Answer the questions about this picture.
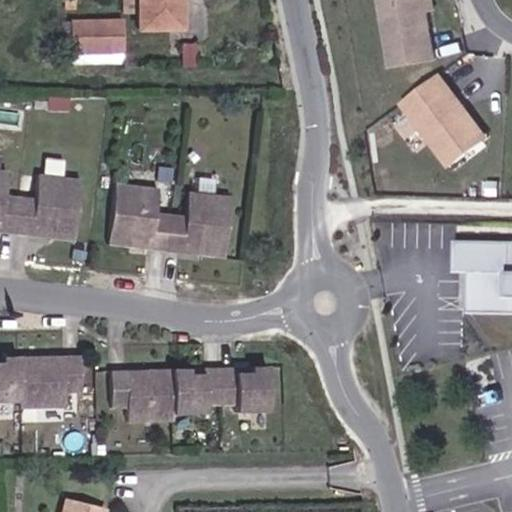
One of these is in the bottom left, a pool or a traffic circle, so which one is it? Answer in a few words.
pool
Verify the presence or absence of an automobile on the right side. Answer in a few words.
Yes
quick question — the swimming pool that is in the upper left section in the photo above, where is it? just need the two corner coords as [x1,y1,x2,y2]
[0,106,24,128]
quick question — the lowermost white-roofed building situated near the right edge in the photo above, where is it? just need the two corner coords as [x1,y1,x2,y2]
[451,240,512,314]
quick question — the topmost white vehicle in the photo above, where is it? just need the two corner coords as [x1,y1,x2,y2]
[434,41,462,56]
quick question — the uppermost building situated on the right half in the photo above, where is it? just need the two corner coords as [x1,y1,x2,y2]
[373,0,436,68]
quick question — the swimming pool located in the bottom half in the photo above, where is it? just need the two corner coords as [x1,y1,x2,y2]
[62,430,86,454]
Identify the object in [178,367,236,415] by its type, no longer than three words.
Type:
house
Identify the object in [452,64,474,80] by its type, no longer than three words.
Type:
car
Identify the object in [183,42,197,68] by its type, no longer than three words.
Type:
shed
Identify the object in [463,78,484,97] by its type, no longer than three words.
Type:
car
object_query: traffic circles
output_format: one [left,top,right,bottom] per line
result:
[278,252,372,350]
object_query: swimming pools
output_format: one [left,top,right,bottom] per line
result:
[62,430,86,454]
[0,106,24,128]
